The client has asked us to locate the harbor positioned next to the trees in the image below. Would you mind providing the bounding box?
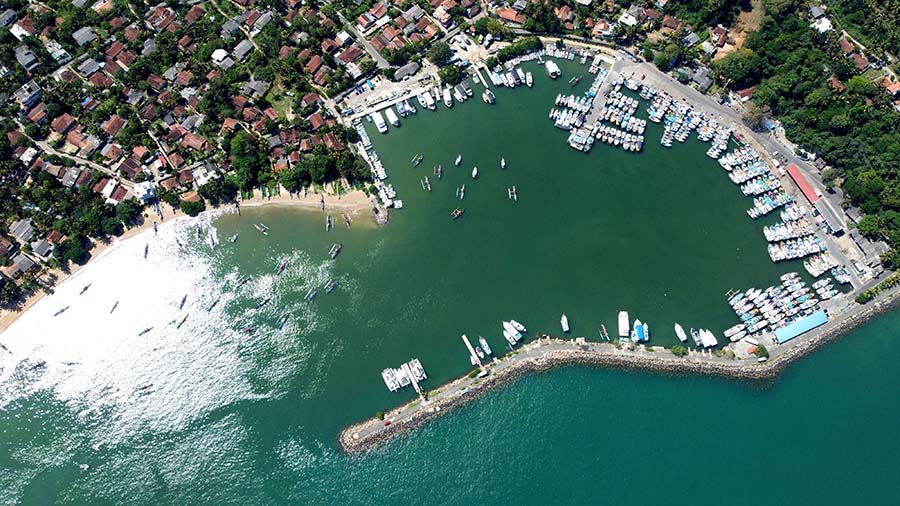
[597,64,870,366]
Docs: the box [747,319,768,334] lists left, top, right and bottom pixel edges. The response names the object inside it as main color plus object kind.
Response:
white boat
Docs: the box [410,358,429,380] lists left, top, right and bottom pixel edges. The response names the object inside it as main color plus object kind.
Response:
white boat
